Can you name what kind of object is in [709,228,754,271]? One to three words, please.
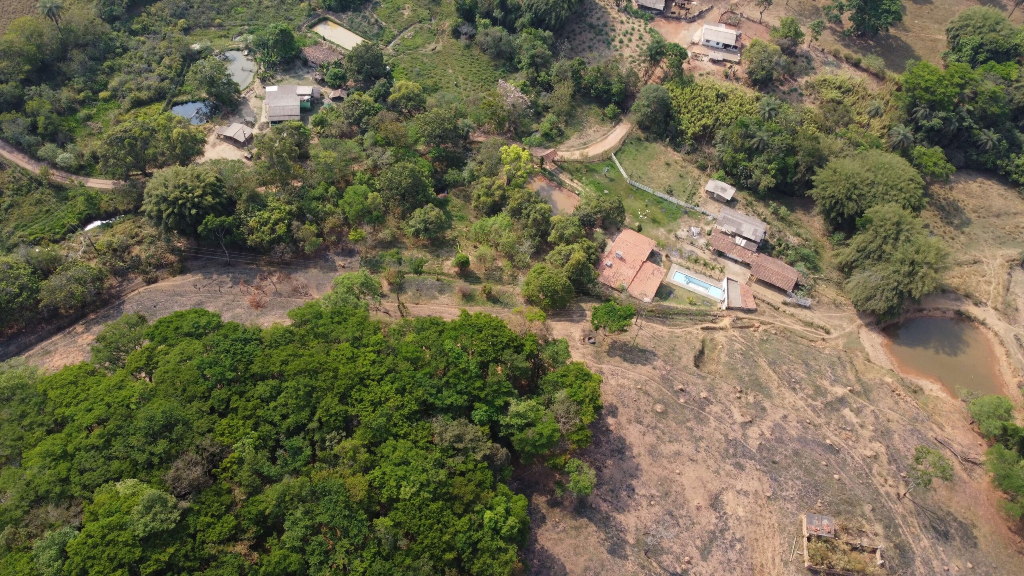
building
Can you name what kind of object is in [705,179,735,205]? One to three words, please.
shed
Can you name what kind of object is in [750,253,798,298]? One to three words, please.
barn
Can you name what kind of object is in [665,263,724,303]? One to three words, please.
swimming pool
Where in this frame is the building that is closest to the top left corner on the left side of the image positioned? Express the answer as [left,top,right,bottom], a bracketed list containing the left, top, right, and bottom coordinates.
[216,123,254,149]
